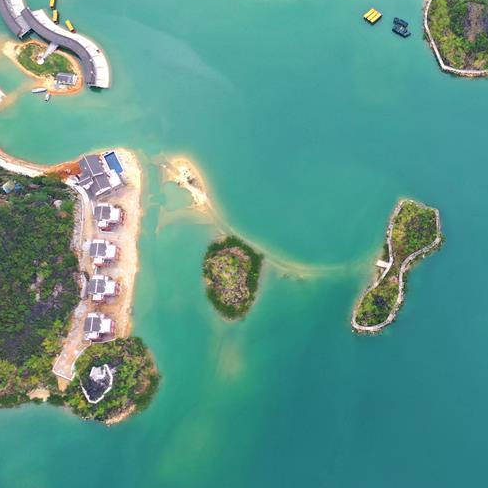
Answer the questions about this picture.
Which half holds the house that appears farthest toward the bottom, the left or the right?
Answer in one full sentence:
The house that appears farthest toward the bottom sits on the left side.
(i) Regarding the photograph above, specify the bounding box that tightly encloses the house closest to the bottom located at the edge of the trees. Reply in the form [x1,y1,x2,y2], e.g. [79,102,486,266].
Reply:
[84,313,119,340]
